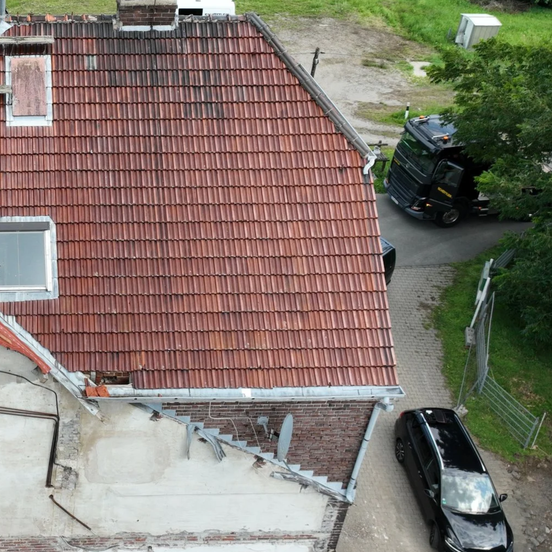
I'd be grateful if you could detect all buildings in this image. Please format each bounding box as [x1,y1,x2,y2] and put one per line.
[455,16,503,49]
[0,0,410,552]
